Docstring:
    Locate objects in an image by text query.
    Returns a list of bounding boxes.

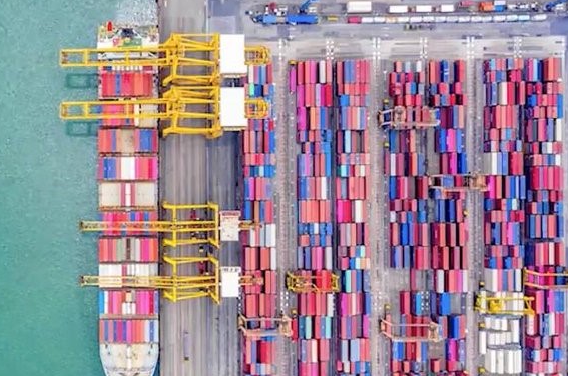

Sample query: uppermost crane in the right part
[378,107,441,129]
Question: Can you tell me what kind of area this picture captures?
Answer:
port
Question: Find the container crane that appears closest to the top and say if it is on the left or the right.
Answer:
left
